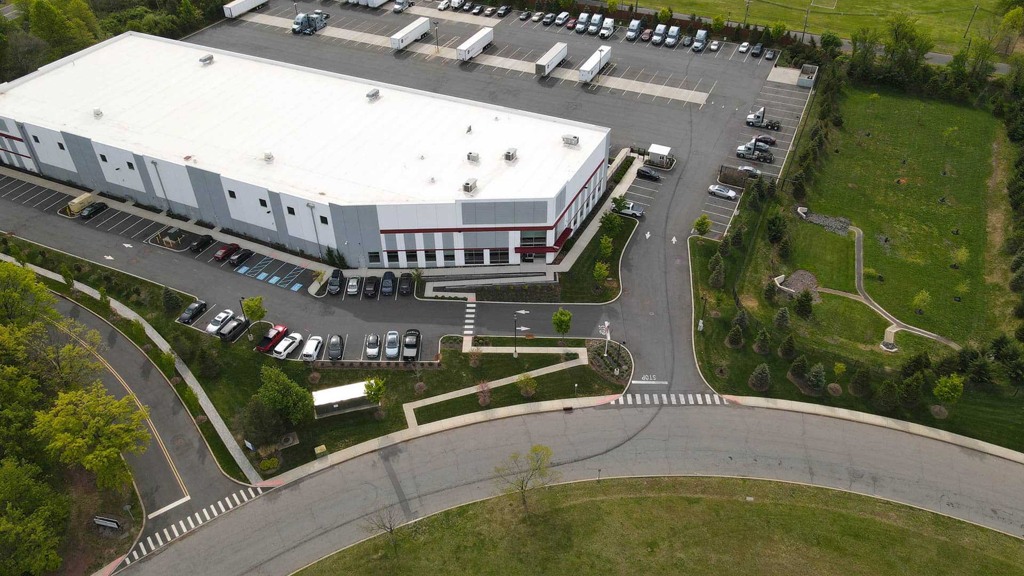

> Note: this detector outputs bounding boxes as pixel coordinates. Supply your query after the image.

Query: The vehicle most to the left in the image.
[79,201,107,218]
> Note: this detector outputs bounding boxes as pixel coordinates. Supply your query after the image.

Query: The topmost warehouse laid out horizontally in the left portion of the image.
[0,31,611,269]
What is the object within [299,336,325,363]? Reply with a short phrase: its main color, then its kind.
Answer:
white car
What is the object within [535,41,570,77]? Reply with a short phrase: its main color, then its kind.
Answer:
white trailer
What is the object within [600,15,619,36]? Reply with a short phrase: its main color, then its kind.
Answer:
white vehicle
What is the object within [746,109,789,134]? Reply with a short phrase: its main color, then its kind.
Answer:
gray truck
